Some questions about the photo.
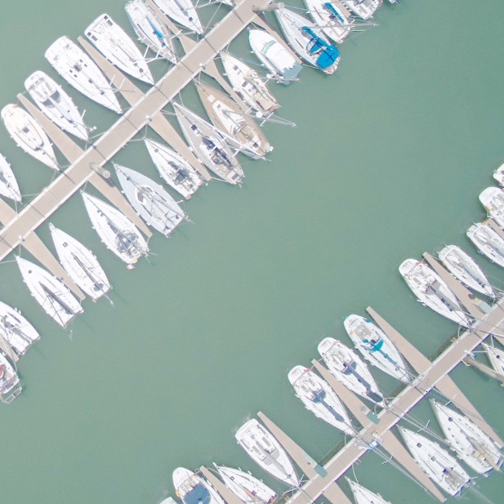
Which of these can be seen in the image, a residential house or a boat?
boat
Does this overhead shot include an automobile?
No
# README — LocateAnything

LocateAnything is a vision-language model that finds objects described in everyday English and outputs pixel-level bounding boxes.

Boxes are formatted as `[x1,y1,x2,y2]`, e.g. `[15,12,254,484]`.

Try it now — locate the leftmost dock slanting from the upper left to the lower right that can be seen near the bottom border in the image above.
[200,464,244,504]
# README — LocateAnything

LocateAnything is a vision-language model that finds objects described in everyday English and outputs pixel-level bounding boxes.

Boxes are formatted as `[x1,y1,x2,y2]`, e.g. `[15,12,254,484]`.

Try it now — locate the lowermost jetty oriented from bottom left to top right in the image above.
[282,297,504,504]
